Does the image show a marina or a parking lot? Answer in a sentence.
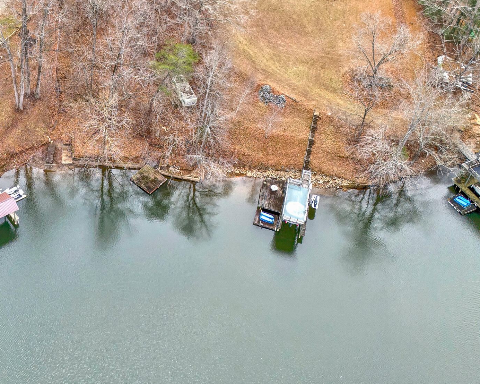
It's a marina.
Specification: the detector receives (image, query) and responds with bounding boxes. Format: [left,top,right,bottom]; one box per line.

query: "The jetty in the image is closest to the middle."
[257,166,313,239]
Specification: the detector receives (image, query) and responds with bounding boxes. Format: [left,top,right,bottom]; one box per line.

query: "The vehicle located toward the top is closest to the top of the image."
[168,80,196,117]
